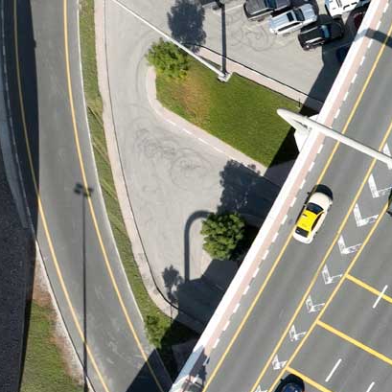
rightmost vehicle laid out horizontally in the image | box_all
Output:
[324,0,372,21]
